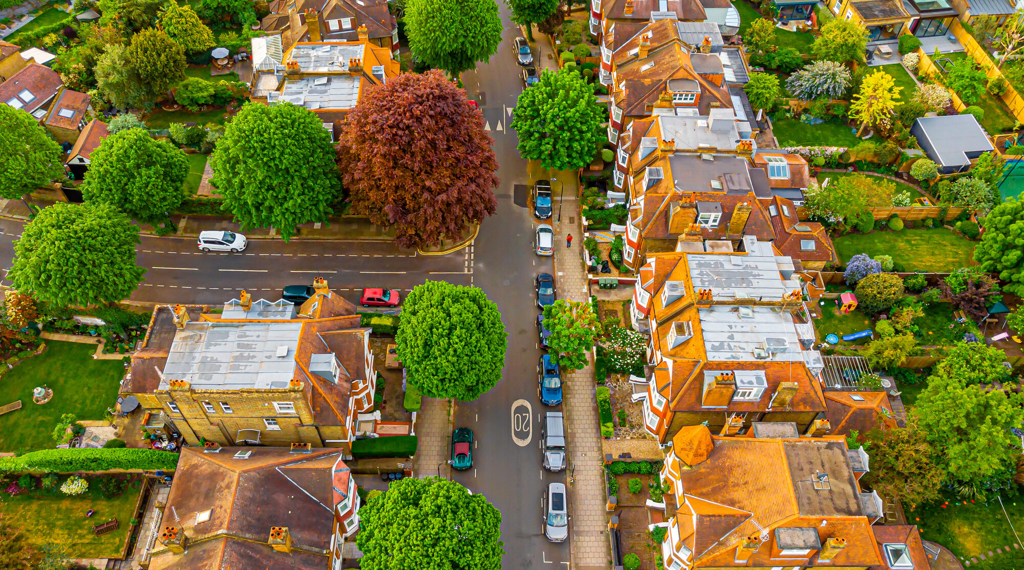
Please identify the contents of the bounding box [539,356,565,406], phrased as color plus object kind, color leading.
blue car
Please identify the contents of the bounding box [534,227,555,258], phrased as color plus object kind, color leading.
white car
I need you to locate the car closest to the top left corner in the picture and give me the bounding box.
[197,232,247,254]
